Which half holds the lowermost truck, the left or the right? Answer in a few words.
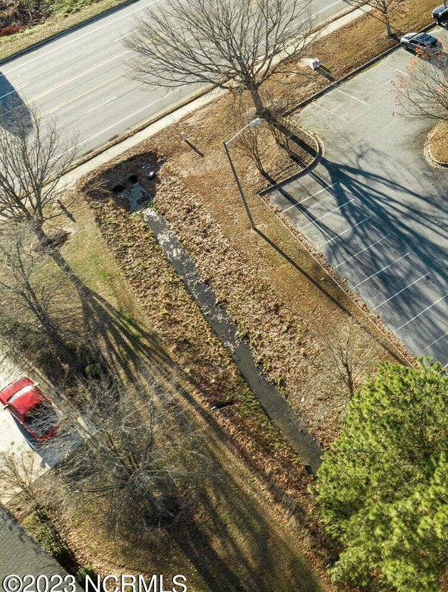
left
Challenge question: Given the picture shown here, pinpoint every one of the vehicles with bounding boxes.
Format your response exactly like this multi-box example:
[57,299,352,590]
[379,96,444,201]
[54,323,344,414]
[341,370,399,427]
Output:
[0,377,71,448]
[430,4,448,24]
[397,30,446,56]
